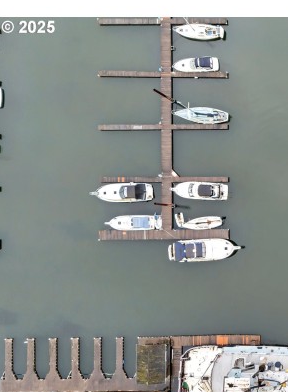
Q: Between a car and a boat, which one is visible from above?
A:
boat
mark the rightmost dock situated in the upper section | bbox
[98,0,230,241]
